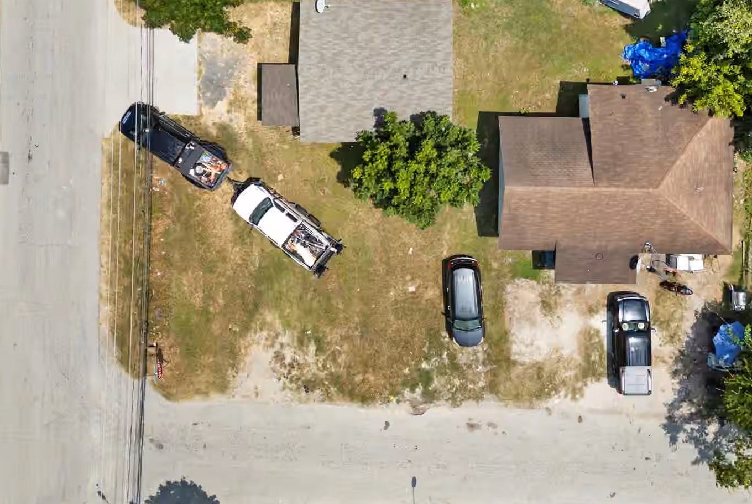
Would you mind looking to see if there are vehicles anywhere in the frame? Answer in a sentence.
Yes, the picture does show a vehicle.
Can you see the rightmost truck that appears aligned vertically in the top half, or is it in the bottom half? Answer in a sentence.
The rightmost truck that appears aligned vertically is in the bottom half of the image.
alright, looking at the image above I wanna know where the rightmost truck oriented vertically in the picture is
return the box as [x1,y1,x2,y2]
[608,289,656,397]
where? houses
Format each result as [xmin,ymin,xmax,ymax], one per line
[497,74,734,284]
[258,0,456,142]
